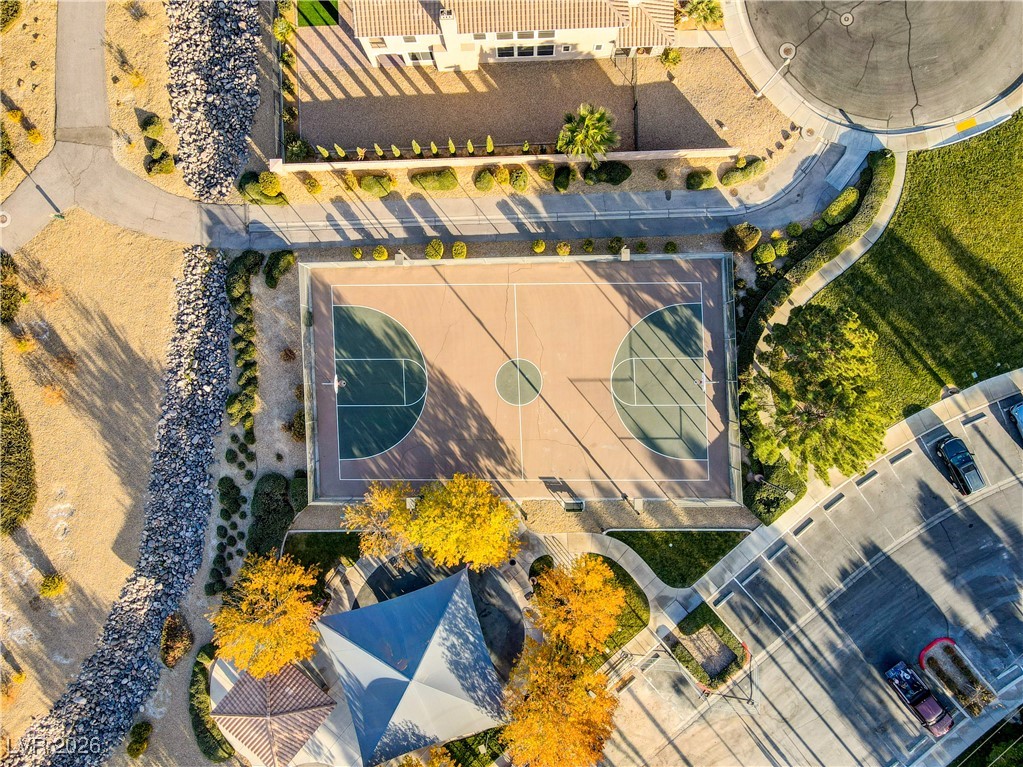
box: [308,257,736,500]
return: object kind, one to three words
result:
basketball court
